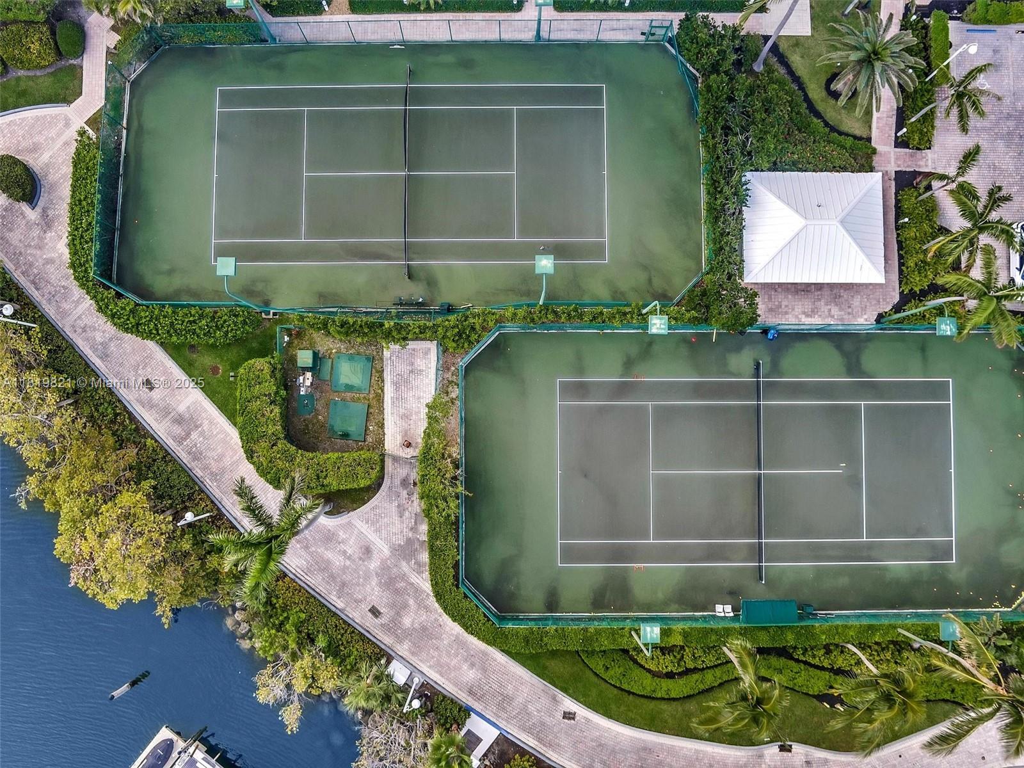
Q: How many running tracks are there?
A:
0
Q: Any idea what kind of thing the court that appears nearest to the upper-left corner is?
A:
tennis court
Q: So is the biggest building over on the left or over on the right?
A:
right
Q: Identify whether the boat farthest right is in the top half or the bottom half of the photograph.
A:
bottom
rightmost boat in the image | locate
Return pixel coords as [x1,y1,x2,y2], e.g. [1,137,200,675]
[175,735,230,768]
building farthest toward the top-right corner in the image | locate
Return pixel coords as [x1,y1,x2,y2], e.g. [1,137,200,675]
[737,170,887,288]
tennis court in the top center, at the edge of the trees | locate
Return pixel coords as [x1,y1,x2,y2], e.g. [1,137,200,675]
[115,42,704,309]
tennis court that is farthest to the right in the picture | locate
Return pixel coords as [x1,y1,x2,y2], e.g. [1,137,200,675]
[464,334,1024,614]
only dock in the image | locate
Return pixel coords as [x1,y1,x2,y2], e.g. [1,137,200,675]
[127,722,188,768]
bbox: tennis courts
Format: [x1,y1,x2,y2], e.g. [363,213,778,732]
[115,42,704,309]
[464,334,1024,614]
